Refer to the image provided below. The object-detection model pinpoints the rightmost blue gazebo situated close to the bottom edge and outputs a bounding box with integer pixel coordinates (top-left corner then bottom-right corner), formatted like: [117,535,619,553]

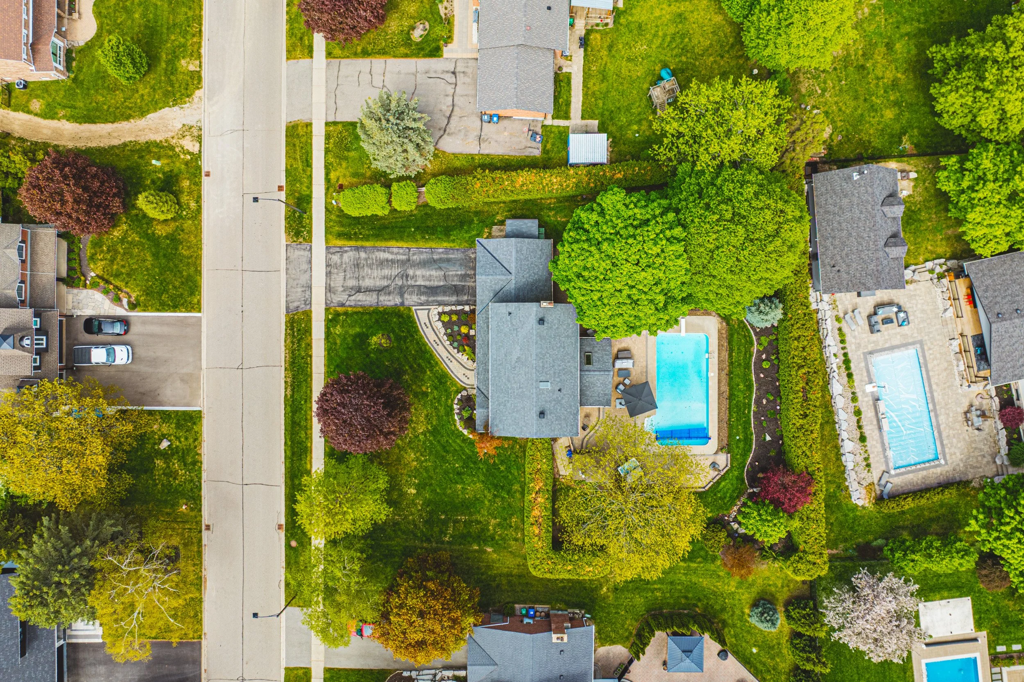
[663,631,704,673]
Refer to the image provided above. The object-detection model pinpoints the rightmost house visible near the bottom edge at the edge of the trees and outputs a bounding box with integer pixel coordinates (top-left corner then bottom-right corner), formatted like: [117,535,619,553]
[467,609,595,682]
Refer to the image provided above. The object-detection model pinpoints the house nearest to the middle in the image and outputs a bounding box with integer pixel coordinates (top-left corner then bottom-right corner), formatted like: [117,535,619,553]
[475,219,613,438]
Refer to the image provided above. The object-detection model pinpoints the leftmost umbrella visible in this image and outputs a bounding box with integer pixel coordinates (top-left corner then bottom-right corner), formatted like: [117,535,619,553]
[616,381,657,417]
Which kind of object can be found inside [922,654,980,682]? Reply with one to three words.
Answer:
swimming pool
